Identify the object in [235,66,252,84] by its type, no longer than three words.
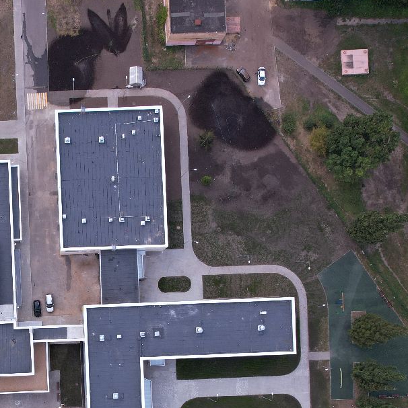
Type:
car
